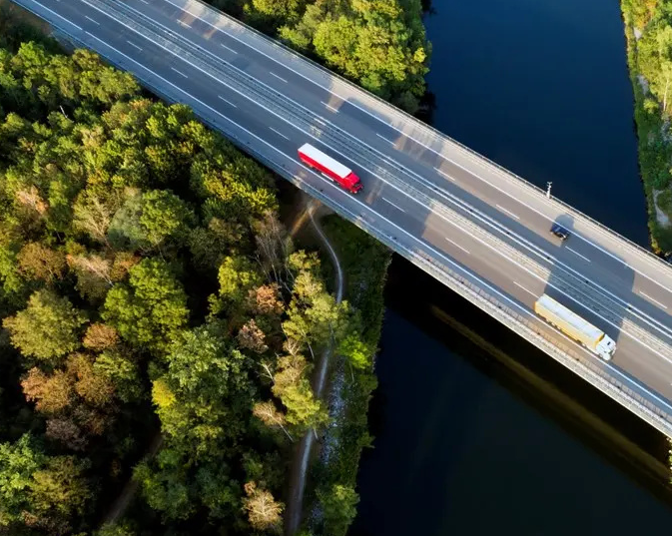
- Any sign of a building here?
No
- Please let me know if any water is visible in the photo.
Yes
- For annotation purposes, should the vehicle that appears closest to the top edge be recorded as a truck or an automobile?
truck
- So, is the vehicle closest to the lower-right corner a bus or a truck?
truck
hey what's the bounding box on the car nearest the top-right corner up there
[549,225,572,241]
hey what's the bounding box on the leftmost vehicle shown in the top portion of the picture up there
[297,142,361,193]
